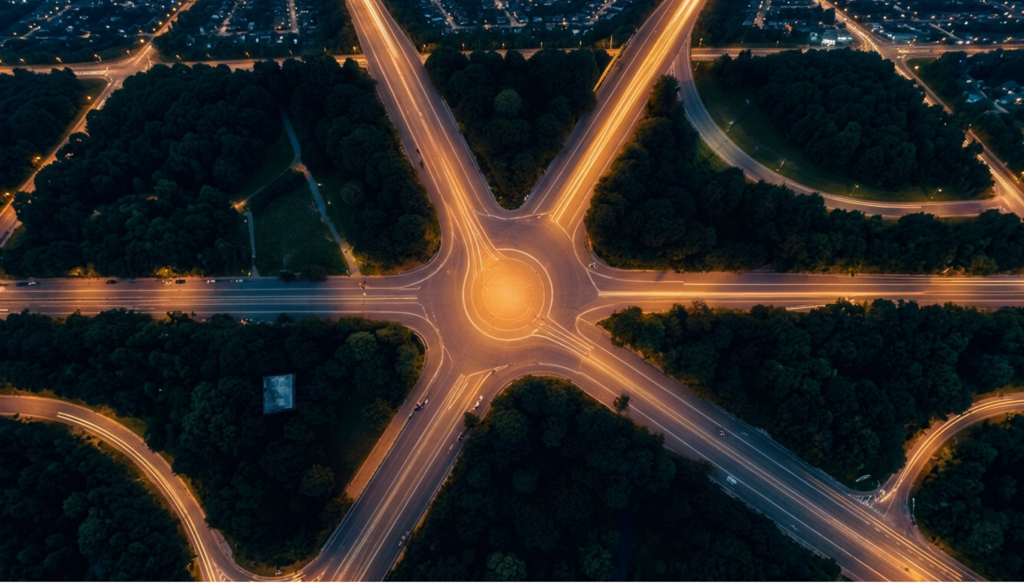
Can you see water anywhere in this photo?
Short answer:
No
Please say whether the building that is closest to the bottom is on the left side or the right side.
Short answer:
left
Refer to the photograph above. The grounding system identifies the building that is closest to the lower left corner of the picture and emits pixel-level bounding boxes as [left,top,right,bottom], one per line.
[260,374,296,416]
